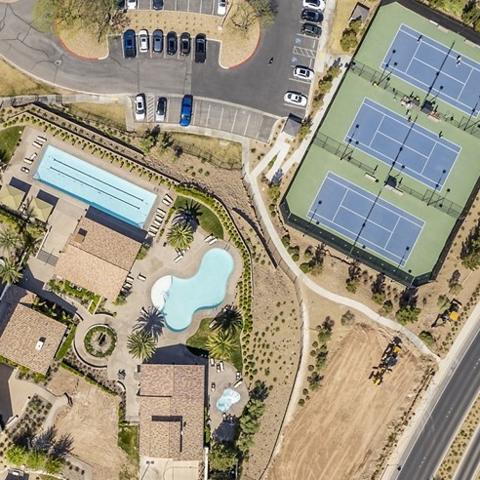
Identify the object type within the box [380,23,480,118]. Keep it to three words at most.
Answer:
tennis court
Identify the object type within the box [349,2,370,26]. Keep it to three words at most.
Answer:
gazebo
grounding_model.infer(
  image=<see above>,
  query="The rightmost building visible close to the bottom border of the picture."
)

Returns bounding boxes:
[137,365,204,461]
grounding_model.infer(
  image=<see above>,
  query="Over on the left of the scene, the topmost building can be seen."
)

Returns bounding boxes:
[54,213,141,302]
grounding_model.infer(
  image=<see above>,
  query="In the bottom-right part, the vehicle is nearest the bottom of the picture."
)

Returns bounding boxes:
[374,340,403,383]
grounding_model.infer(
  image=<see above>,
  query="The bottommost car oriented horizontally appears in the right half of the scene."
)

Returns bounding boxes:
[284,92,307,105]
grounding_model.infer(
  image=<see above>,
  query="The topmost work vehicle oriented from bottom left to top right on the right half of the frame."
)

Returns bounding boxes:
[439,306,463,326]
